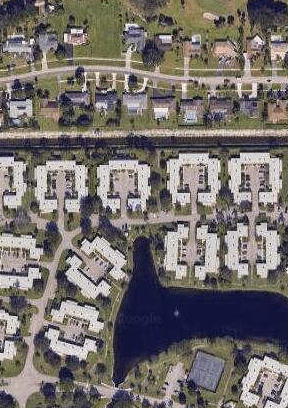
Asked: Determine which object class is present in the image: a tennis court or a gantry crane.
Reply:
tennis court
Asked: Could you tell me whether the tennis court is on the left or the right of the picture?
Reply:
right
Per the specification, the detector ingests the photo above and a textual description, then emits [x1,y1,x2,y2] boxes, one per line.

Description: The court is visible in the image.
[186,351,226,391]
